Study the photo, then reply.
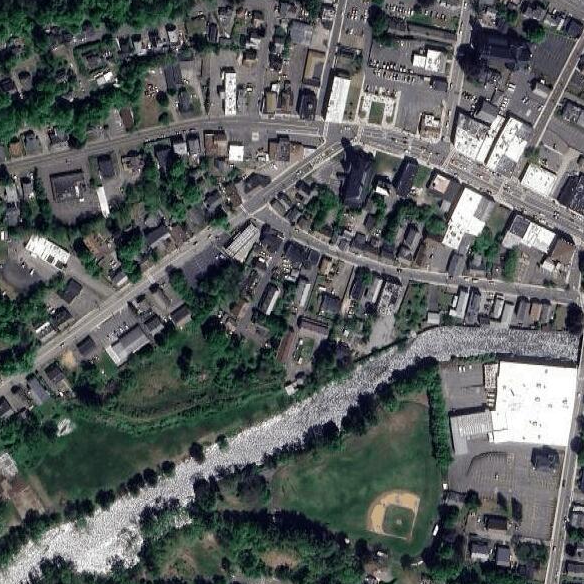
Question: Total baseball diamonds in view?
1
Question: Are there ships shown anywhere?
No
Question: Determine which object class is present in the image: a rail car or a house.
house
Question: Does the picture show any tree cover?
Yes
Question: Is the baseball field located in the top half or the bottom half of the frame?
bottom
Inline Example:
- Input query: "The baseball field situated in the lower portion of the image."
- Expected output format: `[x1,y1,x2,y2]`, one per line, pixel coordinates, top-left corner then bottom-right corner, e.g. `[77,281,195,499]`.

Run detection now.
[276,429,440,546]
